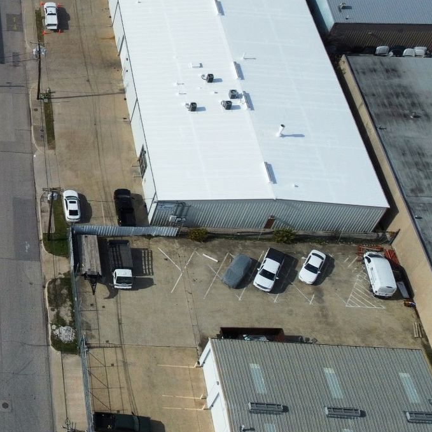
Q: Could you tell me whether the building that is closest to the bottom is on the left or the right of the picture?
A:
right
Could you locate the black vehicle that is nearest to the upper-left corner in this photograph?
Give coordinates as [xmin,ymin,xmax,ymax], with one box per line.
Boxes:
[112,186,138,222]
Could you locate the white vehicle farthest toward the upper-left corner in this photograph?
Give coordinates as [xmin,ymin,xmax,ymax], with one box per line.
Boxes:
[43,2,60,32]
